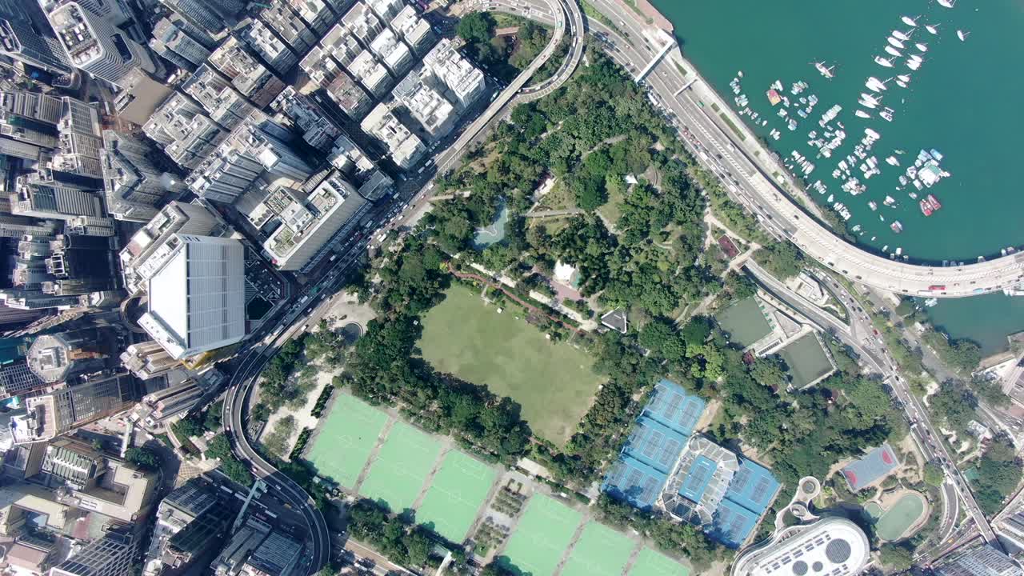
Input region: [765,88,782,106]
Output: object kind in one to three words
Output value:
ship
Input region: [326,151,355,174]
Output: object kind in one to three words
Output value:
building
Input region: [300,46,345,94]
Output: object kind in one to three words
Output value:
building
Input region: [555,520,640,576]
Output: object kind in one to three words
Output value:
soccer field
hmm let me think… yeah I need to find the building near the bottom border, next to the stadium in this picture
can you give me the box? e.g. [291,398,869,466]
[726,511,871,576]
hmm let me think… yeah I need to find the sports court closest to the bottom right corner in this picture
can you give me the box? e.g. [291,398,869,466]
[840,445,899,490]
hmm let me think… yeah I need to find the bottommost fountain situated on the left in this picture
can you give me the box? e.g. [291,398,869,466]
[342,318,365,341]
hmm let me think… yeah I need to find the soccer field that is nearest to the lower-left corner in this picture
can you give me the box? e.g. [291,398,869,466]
[305,392,388,489]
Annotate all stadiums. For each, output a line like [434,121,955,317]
[660,433,740,526]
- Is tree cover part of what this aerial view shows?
Yes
